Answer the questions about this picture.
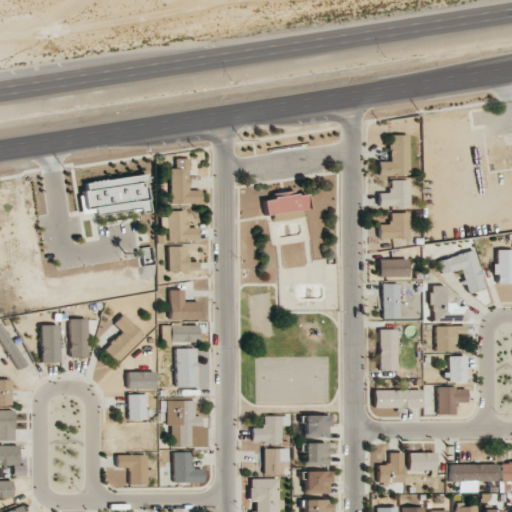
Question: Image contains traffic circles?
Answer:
No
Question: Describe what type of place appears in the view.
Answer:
residential area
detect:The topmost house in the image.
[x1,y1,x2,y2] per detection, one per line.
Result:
[376,134,412,176]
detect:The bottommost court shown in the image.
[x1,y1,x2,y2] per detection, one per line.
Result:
[256,357,329,405]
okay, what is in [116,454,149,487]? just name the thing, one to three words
house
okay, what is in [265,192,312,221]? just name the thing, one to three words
building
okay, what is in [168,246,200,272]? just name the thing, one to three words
house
